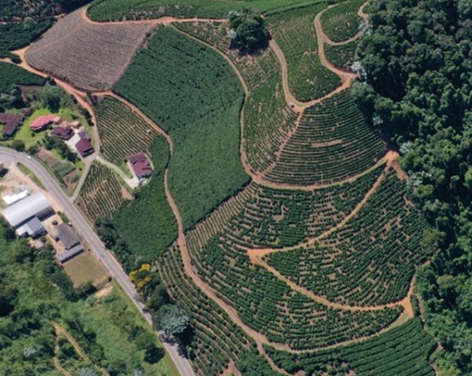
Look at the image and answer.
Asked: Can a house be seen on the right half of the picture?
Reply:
No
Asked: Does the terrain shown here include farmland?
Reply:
Yes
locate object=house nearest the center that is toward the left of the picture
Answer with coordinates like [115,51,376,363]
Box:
[128,153,149,184]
